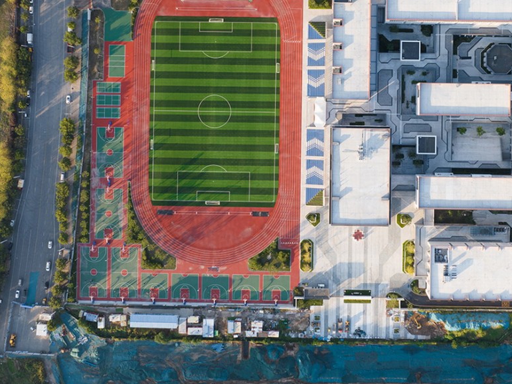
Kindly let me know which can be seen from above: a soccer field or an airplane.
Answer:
soccer field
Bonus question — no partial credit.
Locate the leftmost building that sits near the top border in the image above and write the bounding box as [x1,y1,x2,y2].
[332,0,372,101]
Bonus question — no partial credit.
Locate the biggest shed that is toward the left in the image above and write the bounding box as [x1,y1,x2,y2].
[130,313,179,328]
